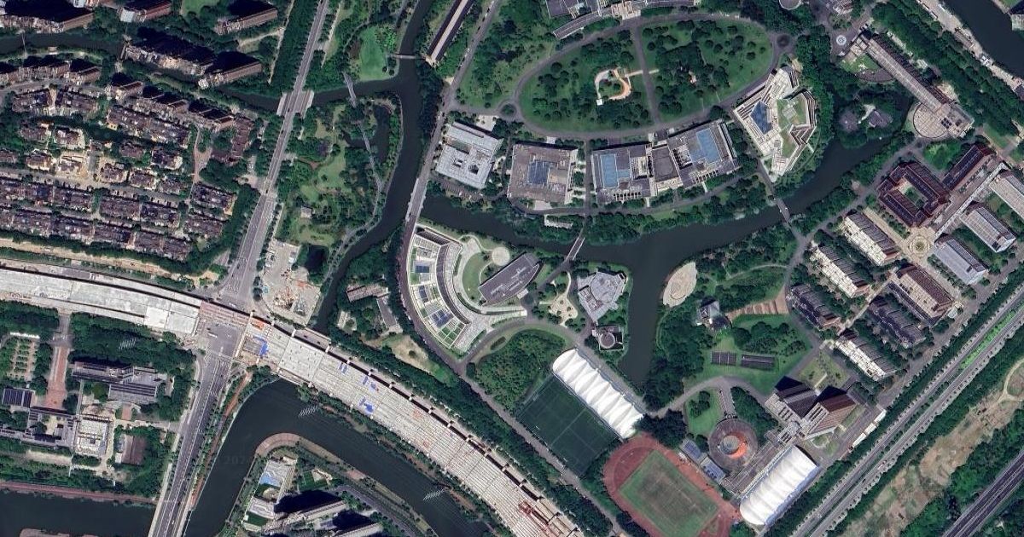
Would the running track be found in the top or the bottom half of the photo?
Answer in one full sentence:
The running track is in the bottom half of the image.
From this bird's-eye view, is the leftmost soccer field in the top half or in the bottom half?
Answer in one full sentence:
The bottom half of the photo is where the leftmost soccer field is.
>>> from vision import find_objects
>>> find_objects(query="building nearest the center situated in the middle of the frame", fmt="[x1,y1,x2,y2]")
[479,252,543,306]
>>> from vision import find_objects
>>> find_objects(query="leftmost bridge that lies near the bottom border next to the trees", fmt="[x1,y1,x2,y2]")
[150,481,190,537]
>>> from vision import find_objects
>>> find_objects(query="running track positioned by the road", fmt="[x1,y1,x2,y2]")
[602,435,734,537]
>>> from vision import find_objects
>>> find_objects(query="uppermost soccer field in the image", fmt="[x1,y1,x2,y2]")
[516,376,619,475]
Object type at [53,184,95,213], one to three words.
house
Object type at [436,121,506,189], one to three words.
building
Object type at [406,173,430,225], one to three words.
bridge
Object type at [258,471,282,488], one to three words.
swimming pool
